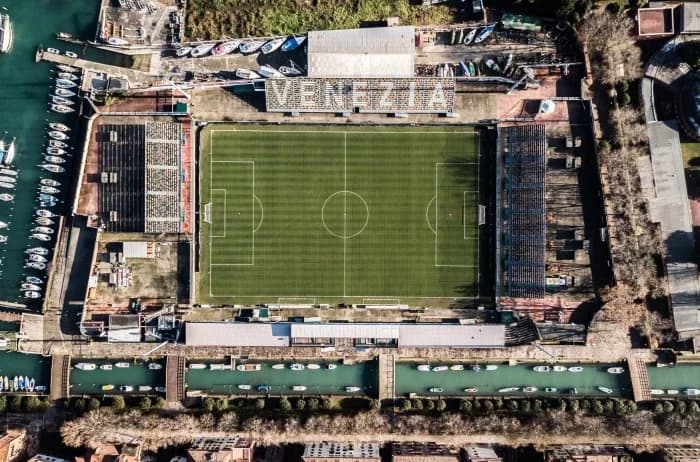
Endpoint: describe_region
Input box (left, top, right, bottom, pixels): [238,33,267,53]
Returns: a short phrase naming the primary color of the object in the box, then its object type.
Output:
white boat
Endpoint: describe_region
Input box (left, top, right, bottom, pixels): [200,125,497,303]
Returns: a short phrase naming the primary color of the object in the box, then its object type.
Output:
green soccer field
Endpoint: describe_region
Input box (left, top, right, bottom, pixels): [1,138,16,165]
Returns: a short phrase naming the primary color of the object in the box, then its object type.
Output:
white boat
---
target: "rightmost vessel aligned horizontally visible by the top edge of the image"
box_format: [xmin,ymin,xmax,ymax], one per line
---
[500,13,542,33]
